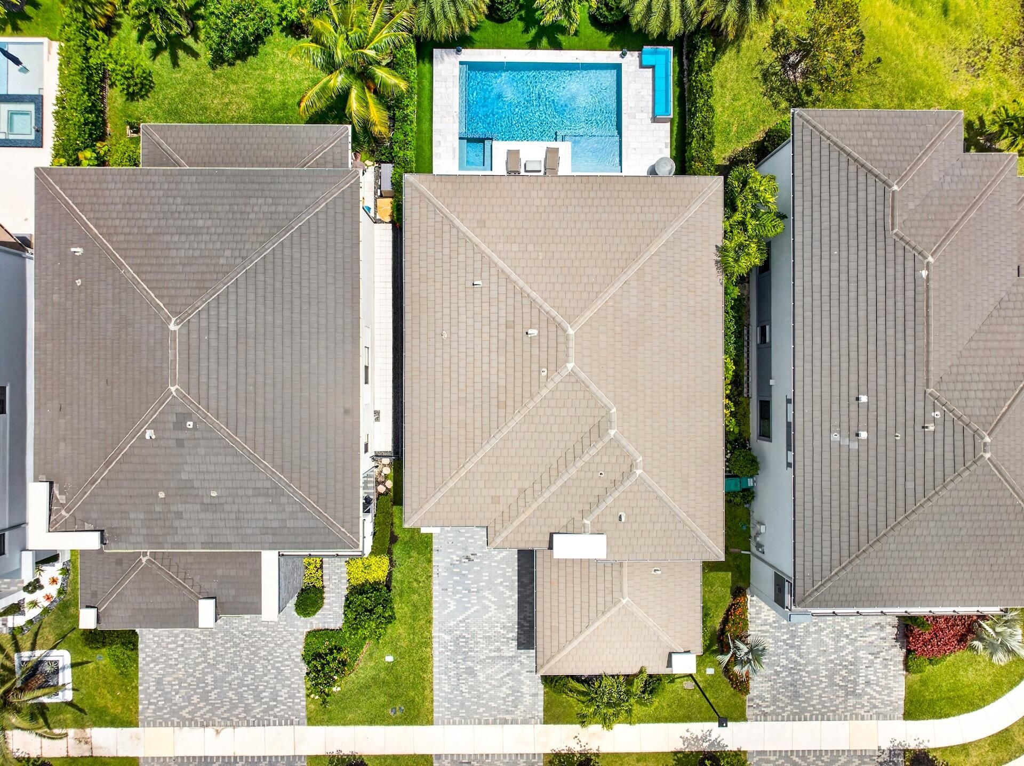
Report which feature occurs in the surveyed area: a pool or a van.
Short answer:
pool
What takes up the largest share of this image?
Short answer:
buildings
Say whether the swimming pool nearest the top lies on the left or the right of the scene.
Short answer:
left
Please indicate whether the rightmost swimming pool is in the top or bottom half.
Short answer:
top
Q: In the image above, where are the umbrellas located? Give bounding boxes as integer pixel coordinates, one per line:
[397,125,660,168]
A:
[0,48,28,70]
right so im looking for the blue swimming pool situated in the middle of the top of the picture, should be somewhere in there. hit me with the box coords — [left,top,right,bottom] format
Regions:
[459,56,622,171]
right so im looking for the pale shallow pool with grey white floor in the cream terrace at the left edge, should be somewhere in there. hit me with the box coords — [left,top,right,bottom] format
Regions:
[0,42,43,94]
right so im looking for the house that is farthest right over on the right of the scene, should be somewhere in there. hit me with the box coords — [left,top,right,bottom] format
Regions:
[743,107,1024,627]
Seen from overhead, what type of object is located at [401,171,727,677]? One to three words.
house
